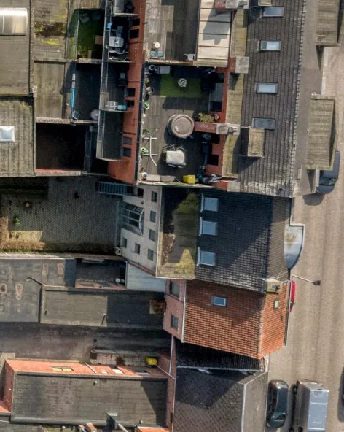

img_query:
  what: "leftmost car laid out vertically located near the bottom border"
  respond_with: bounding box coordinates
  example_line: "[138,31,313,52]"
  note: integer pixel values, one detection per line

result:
[267,377,291,429]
